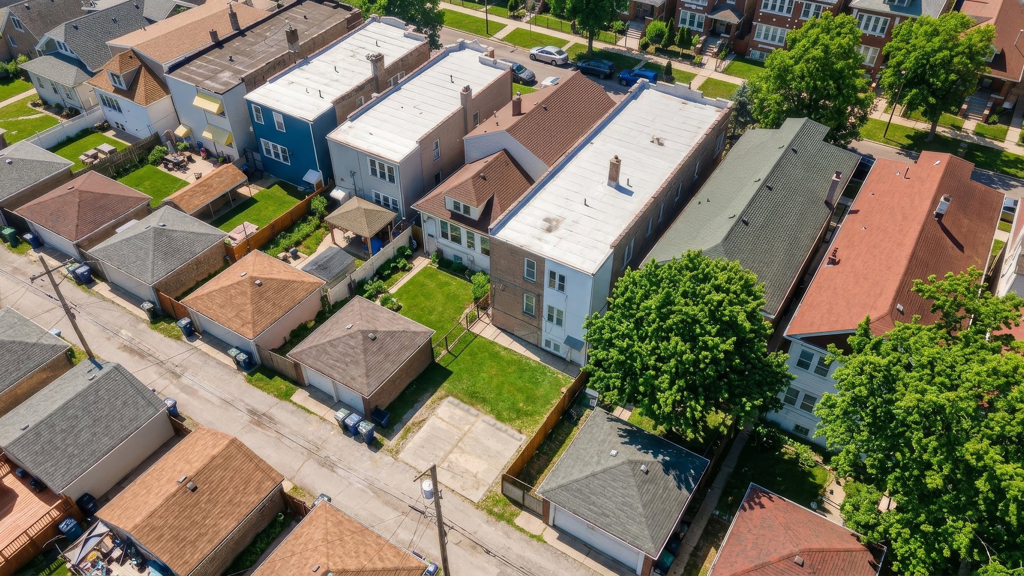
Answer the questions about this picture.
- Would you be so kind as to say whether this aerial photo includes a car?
Yes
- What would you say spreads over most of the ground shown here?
buildings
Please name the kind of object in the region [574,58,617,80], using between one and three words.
car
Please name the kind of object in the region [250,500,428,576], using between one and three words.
building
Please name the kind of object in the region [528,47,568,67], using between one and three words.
car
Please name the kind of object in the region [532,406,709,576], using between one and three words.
building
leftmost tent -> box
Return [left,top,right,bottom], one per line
[55,517,116,576]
